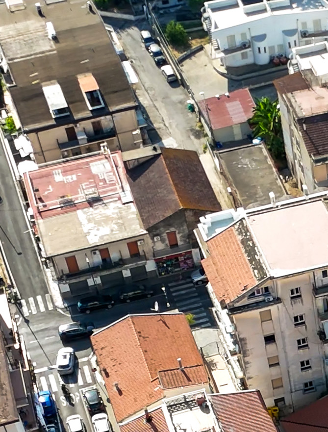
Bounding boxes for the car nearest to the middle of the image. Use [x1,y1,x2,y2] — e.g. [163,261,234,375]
[187,268,205,286]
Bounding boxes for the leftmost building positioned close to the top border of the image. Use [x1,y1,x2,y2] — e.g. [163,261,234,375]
[0,0,144,168]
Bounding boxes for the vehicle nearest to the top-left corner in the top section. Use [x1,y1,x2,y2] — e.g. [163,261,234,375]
[139,31,157,47]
